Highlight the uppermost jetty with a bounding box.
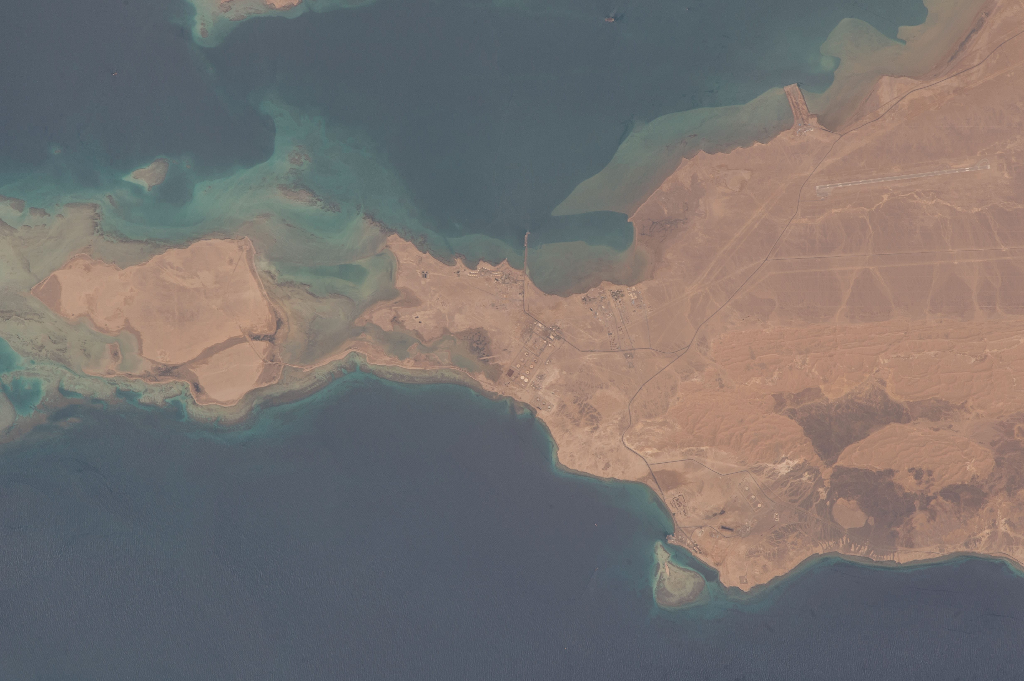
[784,83,826,130]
